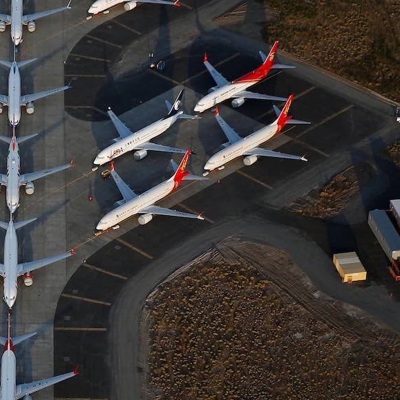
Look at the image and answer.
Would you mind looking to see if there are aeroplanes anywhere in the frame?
Yes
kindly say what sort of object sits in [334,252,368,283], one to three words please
shed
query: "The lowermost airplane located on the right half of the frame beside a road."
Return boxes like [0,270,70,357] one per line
[204,94,310,173]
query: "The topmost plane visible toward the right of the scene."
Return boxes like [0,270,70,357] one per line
[195,40,295,115]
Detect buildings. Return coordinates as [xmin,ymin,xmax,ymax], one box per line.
[390,198,400,225]
[334,252,368,283]
[371,209,400,259]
